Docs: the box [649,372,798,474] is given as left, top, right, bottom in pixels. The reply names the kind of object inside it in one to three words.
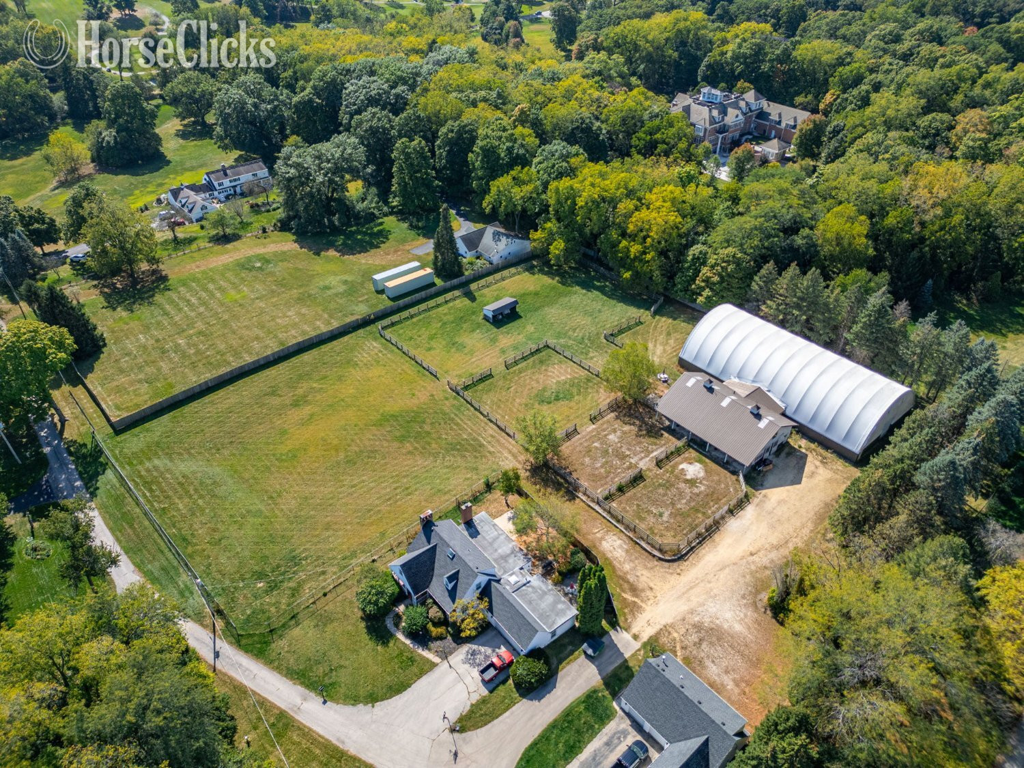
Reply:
barn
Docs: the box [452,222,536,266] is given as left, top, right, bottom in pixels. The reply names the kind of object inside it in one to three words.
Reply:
house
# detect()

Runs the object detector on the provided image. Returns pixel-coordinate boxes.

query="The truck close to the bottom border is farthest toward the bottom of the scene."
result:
[609,735,656,768]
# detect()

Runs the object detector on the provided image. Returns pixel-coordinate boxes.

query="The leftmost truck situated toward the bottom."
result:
[476,653,517,687]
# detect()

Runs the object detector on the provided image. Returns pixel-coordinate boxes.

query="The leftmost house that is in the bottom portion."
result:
[389,503,578,657]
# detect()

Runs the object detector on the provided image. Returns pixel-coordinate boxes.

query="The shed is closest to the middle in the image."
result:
[482,300,519,324]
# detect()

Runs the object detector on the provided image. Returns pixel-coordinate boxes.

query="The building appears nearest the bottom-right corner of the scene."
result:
[618,651,761,768]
